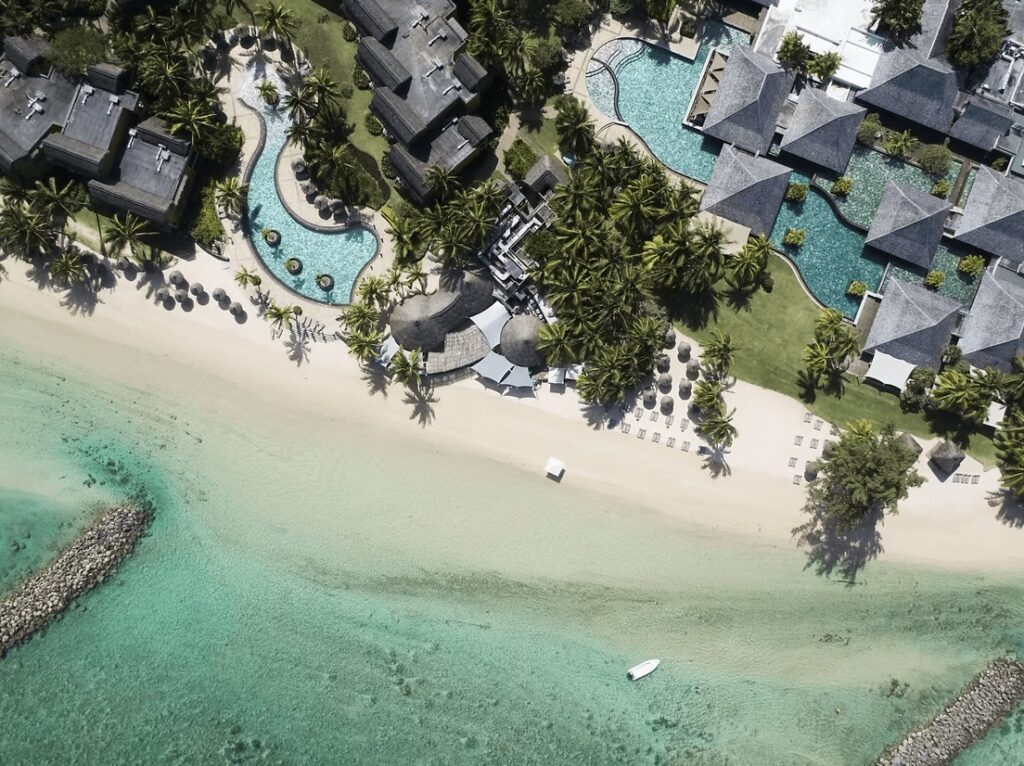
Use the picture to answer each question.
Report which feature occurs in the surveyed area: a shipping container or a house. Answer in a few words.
house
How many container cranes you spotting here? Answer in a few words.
0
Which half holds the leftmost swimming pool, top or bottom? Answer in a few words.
top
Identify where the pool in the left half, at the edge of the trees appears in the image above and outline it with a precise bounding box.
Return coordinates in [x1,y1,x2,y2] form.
[233,57,381,311]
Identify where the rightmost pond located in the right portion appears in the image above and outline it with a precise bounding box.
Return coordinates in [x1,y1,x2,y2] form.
[813,140,999,306]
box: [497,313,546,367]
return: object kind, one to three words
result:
building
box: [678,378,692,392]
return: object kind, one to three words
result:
umbrella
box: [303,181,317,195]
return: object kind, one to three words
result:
umbrella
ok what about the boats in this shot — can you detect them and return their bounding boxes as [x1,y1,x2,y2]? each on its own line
[627,660,659,679]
